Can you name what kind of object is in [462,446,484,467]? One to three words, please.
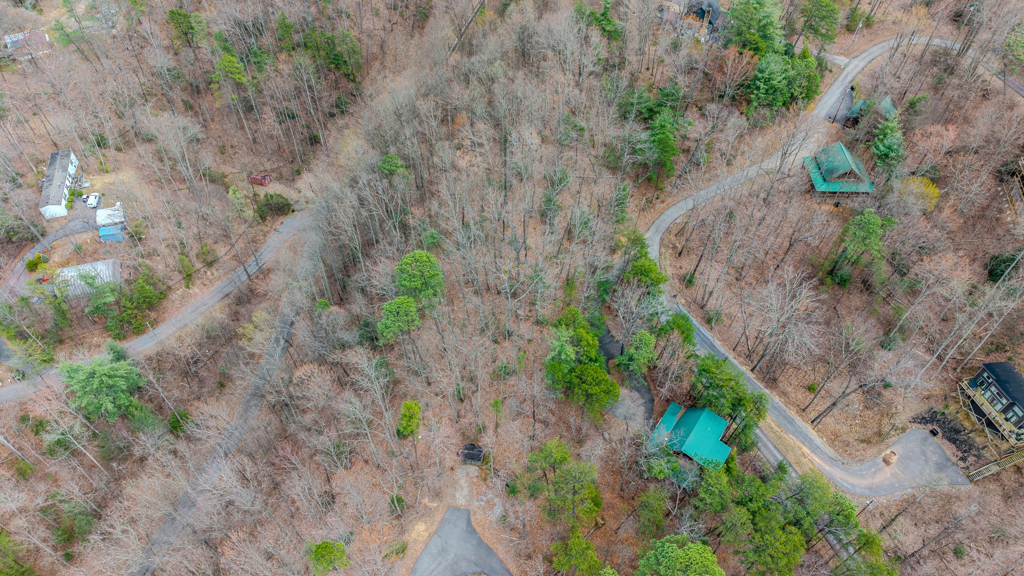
shed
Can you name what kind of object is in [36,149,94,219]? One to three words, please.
house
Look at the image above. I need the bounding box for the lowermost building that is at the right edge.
[949,361,1024,477]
